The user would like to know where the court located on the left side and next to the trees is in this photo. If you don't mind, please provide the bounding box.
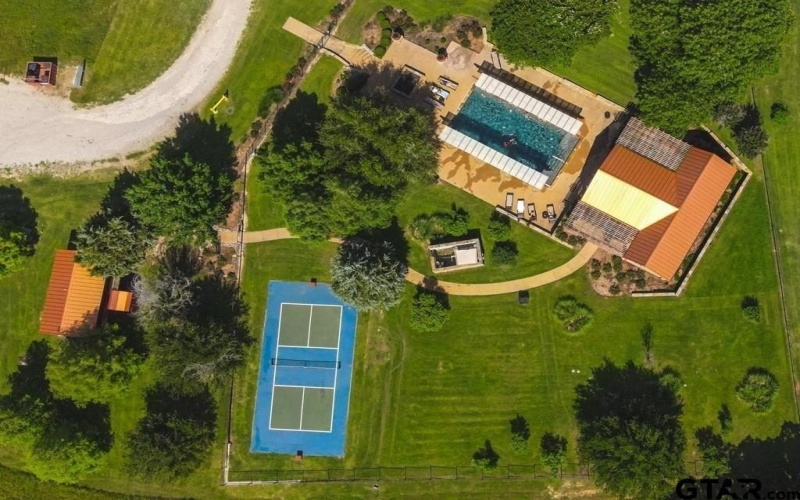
[251,280,355,457]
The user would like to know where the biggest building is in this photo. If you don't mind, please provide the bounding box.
[562,116,738,280]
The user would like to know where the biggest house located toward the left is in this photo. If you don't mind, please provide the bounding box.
[38,248,112,335]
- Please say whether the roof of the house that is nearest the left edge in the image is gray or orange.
orange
